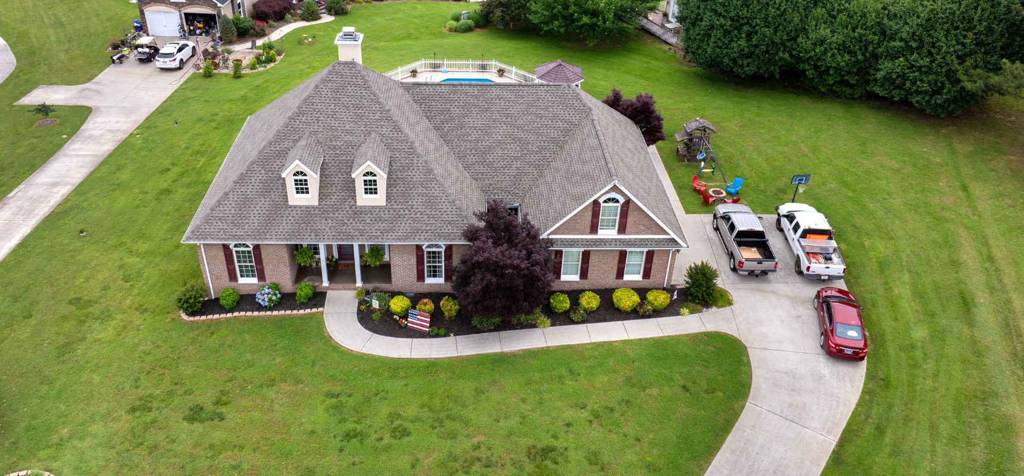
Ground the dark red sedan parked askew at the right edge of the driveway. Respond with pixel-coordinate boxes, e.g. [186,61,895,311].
[814,284,875,359]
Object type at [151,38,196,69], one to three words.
car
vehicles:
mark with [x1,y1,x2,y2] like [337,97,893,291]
[711,202,781,278]
[151,38,196,69]
[814,284,875,359]
[777,200,851,284]
[129,29,161,60]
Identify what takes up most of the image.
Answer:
grass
